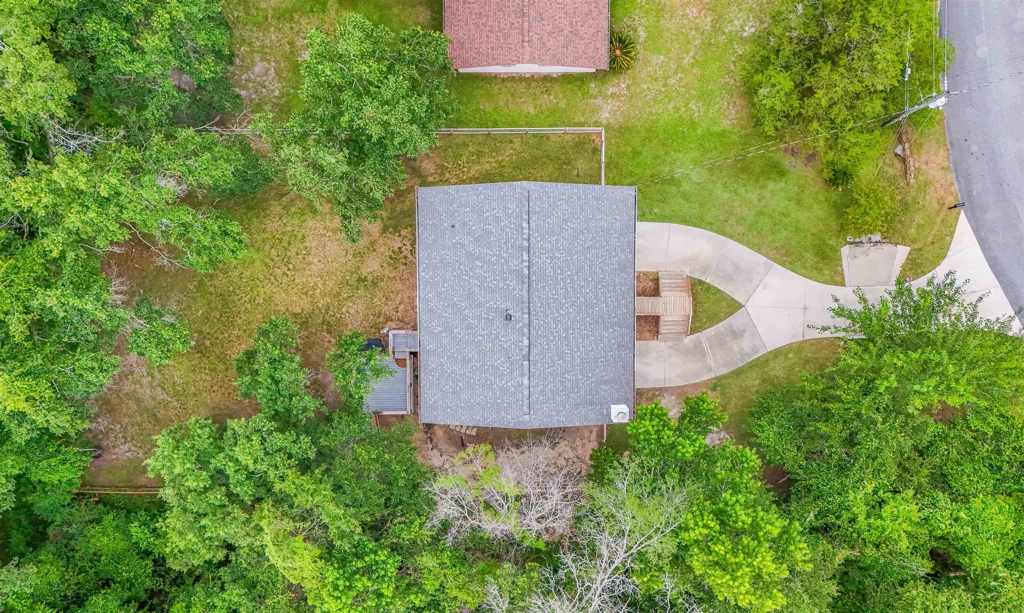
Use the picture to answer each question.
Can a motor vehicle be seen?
No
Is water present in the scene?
No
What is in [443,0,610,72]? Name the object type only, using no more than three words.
house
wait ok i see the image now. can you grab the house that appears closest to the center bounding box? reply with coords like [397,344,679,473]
[416,181,638,429]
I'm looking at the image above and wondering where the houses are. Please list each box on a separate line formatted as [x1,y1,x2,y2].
[443,0,610,72]
[416,181,638,429]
